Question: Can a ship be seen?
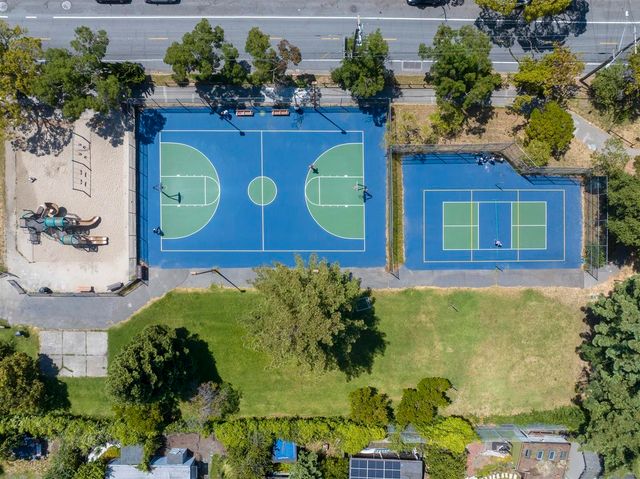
No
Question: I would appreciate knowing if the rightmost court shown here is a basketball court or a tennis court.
tennis court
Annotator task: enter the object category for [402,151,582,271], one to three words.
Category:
tennis court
